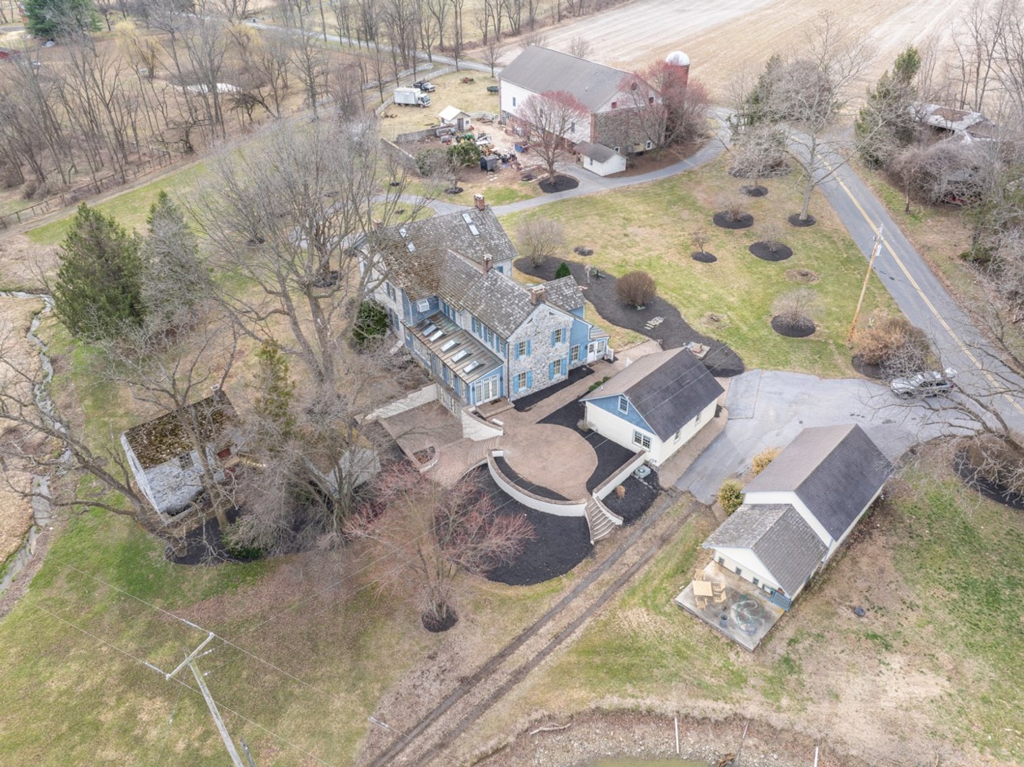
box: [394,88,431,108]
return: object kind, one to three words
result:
vehicle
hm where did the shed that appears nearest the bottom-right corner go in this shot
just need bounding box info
[704,424,893,610]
